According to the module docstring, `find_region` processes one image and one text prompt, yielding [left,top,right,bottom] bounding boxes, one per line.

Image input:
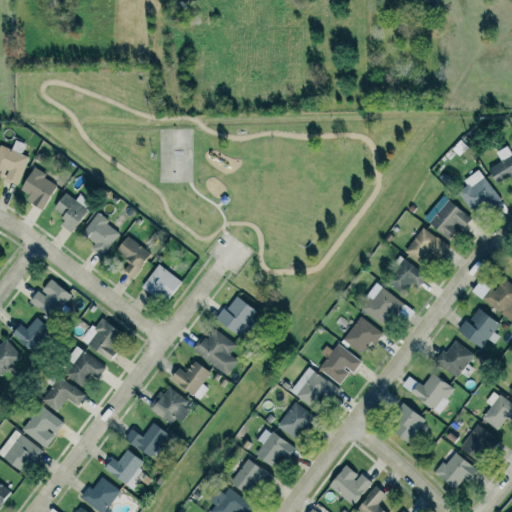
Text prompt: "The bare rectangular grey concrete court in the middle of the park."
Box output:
[160,129,194,183]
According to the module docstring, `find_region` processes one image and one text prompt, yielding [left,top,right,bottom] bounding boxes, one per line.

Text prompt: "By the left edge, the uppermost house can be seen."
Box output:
[0,141,29,185]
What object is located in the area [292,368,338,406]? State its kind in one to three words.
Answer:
house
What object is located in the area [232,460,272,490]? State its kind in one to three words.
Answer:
house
